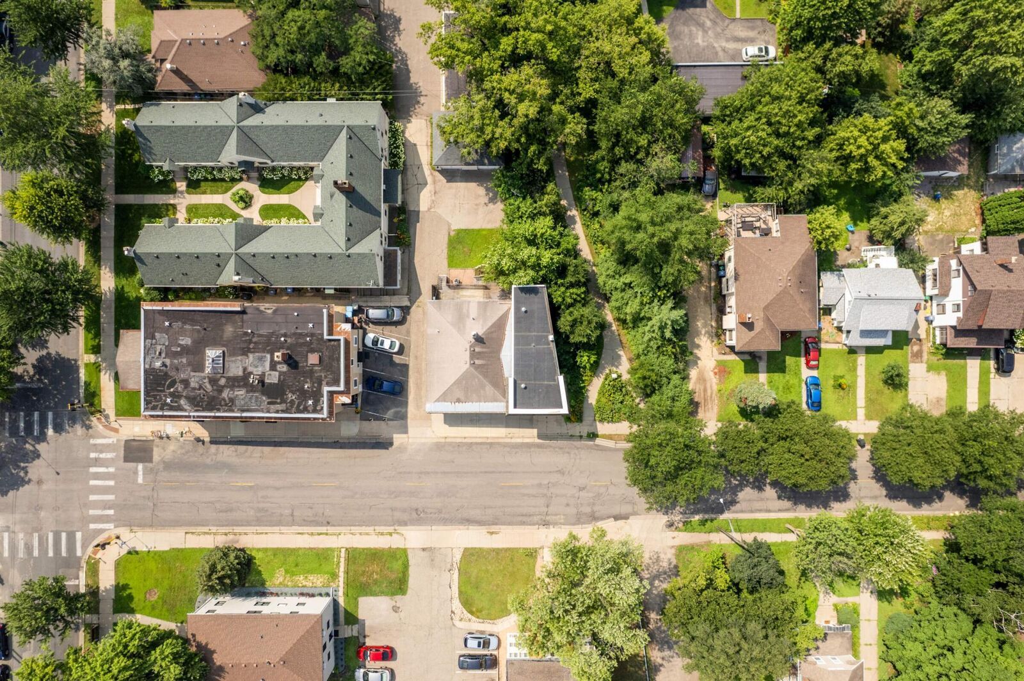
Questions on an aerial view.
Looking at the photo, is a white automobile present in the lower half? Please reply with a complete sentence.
Yes, a white automobile appears in the lower half.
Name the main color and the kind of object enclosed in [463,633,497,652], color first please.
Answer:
white car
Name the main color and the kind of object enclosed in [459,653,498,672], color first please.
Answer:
gray car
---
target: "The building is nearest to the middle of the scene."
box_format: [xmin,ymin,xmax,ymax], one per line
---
[426,286,567,413]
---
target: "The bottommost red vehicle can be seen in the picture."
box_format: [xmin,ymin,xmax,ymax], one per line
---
[357,644,393,663]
